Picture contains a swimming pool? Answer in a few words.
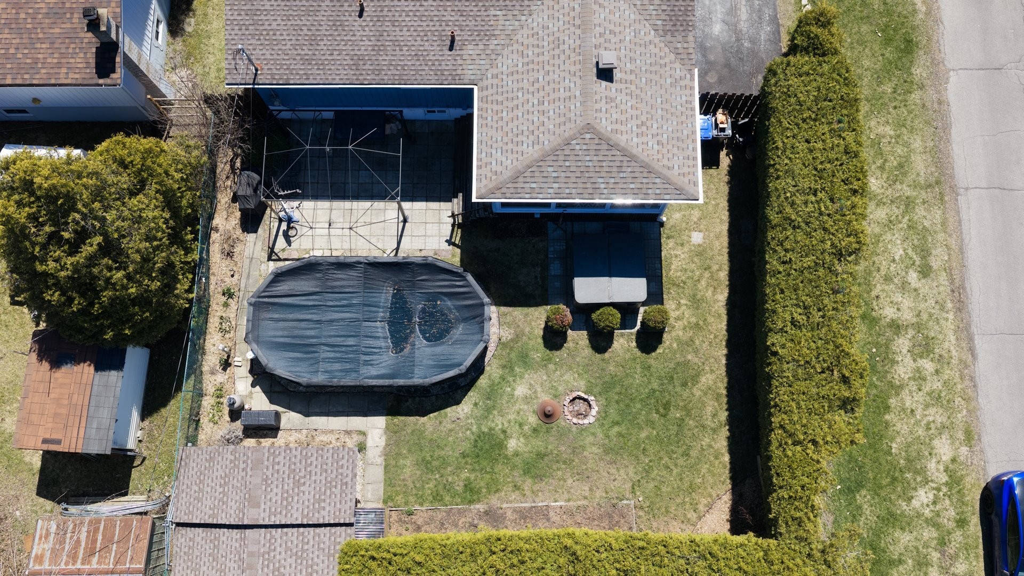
Yes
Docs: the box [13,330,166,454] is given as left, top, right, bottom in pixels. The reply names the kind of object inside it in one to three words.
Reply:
shed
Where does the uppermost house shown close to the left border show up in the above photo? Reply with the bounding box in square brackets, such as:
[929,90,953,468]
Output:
[0,0,170,121]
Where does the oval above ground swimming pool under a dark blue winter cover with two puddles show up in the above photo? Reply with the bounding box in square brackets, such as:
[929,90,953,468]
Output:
[245,254,491,390]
